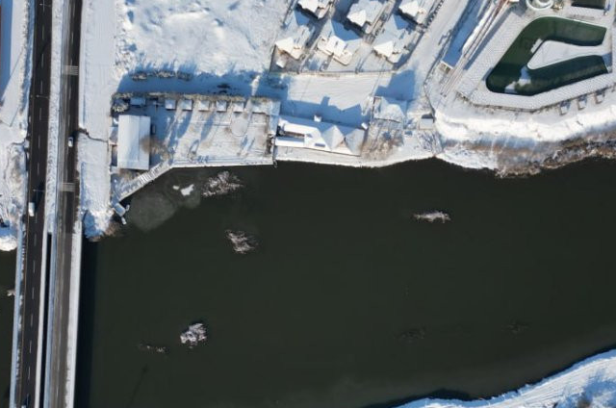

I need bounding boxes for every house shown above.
[375,97,406,122]
[373,14,412,66]
[347,0,386,37]
[318,19,362,68]
[117,114,152,170]
[276,9,314,63]
[275,116,368,157]
[299,0,332,23]
[399,0,434,27]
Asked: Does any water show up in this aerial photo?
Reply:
Yes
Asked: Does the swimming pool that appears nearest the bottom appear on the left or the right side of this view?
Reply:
right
